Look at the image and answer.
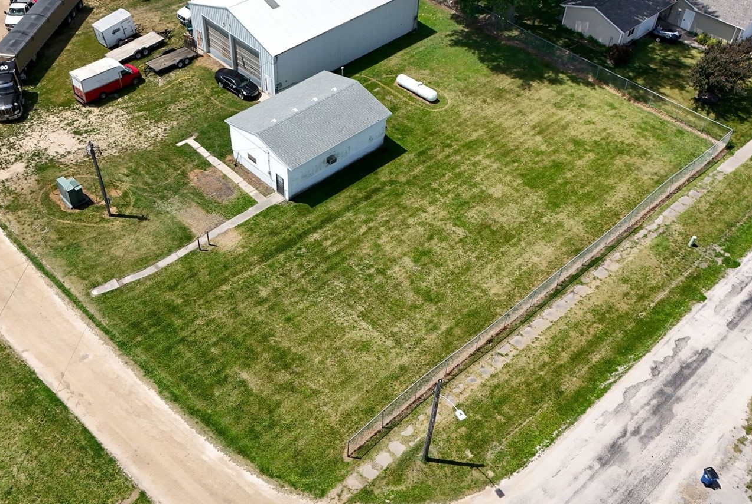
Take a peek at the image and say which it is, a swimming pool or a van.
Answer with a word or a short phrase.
van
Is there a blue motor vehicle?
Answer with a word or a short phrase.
No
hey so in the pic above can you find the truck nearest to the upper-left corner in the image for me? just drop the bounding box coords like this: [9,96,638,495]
[0,0,40,27]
